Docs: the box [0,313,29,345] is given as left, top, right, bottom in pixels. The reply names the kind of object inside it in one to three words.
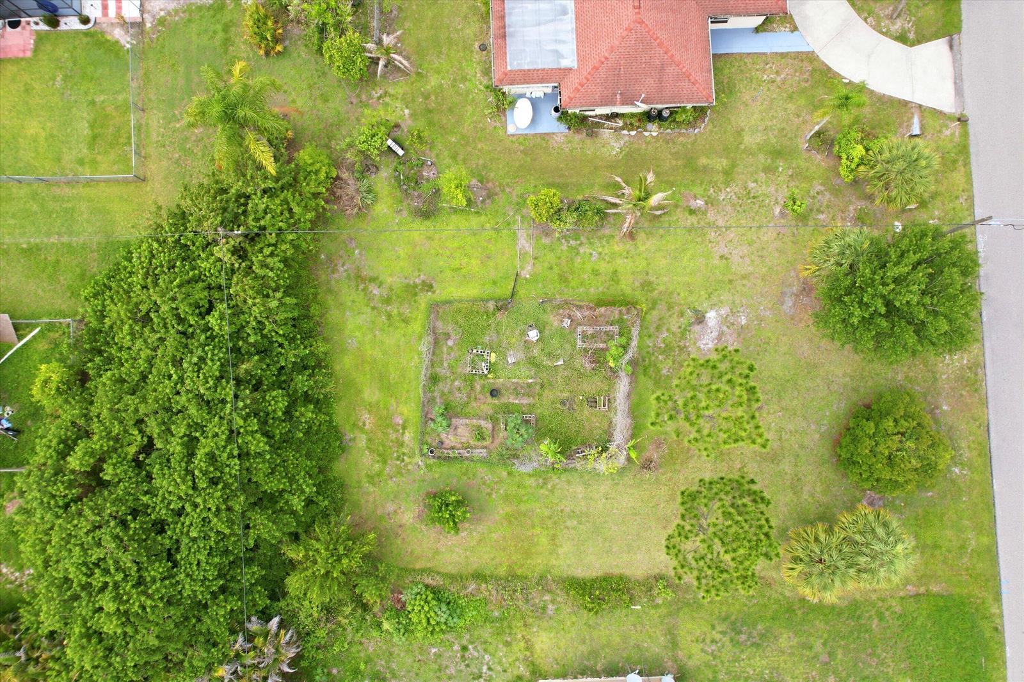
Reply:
shed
